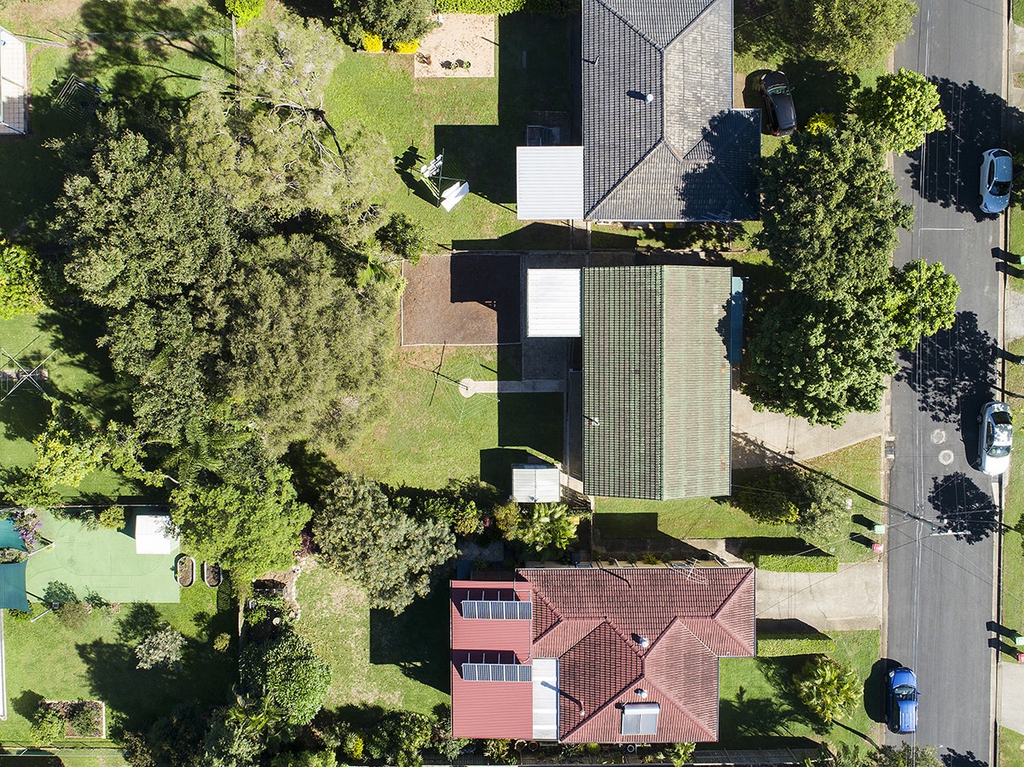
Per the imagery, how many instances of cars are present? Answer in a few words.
4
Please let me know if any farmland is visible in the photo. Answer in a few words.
No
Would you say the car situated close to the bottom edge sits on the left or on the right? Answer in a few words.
right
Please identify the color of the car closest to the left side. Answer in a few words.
black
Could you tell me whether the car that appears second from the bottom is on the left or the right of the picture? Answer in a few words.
right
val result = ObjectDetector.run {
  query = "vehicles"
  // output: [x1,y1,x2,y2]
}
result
[889,667,926,733]
[979,401,1018,475]
[981,149,1020,214]
[759,69,800,138]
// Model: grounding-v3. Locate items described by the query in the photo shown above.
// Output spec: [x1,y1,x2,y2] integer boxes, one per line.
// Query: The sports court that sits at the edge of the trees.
[18,509,179,603]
